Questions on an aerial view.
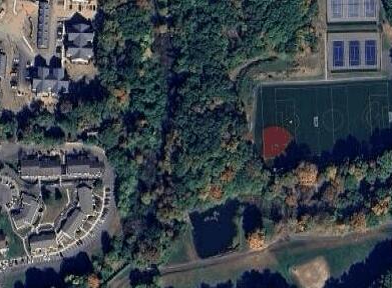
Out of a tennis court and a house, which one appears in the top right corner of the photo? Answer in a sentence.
What appears in the top right corner of the photo is a tennis court.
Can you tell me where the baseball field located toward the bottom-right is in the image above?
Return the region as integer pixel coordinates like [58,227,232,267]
[289,255,333,288]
